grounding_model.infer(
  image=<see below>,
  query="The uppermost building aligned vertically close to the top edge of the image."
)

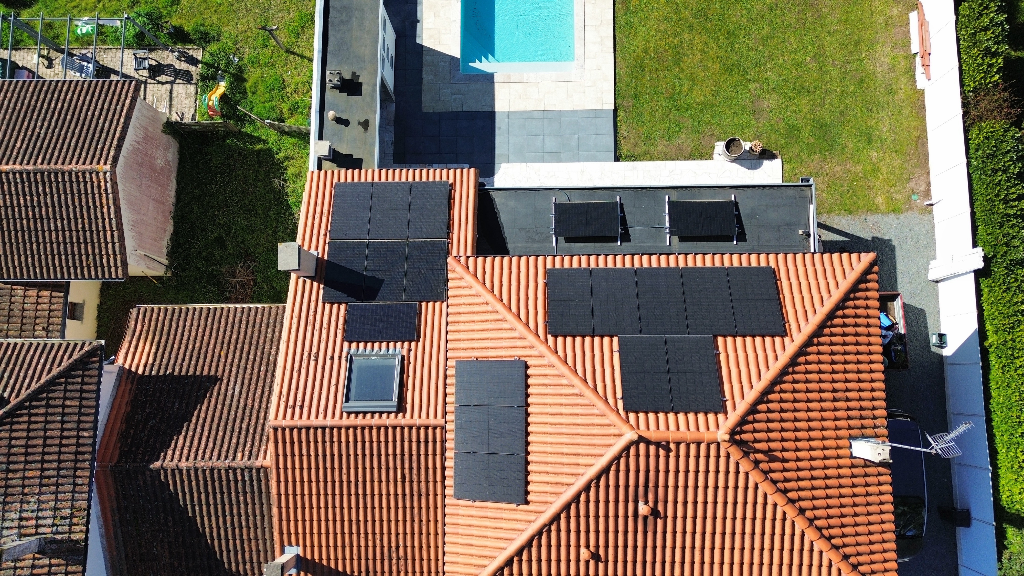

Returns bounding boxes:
[309,0,394,170]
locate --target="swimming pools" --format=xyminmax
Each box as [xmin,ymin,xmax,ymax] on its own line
[459,0,575,73]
